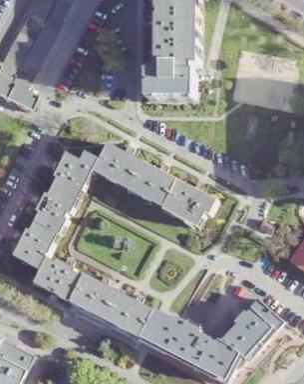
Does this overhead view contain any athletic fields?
Yes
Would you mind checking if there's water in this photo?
No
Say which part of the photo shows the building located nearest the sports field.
top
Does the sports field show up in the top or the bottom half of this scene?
top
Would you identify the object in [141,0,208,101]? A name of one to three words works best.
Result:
building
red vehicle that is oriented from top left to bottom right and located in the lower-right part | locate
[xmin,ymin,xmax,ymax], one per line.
[231,284,246,299]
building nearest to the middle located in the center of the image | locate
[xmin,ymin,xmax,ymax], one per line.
[93,143,222,228]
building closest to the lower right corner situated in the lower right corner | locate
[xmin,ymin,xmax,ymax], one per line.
[223,300,288,356]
